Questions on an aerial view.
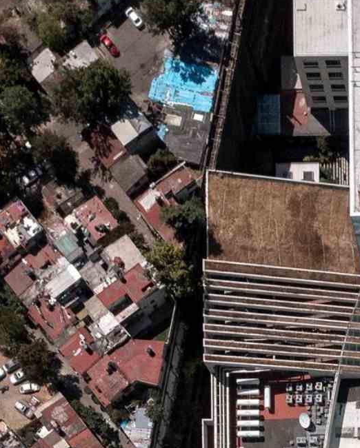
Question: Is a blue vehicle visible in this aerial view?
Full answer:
No, no blue vehicle can be seen from above.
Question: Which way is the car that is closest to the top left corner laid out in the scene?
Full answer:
The car that is closest to the top left corner is oriented on a diagonal.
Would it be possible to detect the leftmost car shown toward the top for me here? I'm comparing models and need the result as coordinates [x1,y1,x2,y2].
[100,33,120,57]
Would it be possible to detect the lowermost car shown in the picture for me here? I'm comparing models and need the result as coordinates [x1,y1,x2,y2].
[14,398,34,416]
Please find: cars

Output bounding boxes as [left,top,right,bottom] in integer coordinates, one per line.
[8,370,30,389]
[124,6,143,30]
[0,358,21,375]
[100,33,120,57]
[14,398,34,416]
[18,381,43,395]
